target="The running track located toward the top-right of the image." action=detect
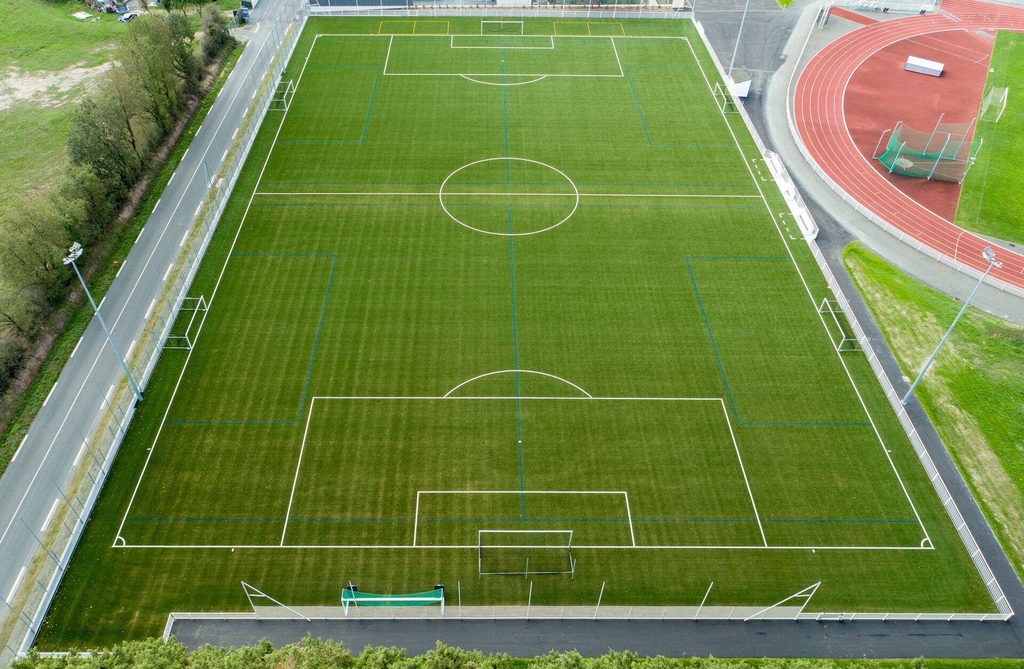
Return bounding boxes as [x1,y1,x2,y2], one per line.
[794,13,1024,285]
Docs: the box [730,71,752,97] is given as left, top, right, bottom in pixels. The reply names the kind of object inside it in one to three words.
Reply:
shed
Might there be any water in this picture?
No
